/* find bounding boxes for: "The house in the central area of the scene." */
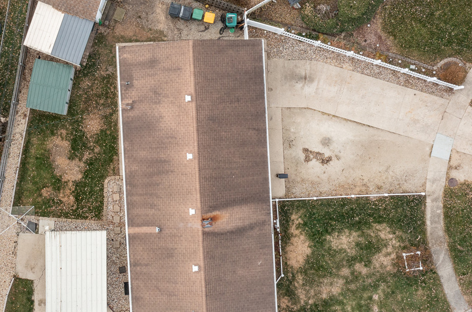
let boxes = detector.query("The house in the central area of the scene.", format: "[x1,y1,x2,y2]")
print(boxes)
[115,38,280,312]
